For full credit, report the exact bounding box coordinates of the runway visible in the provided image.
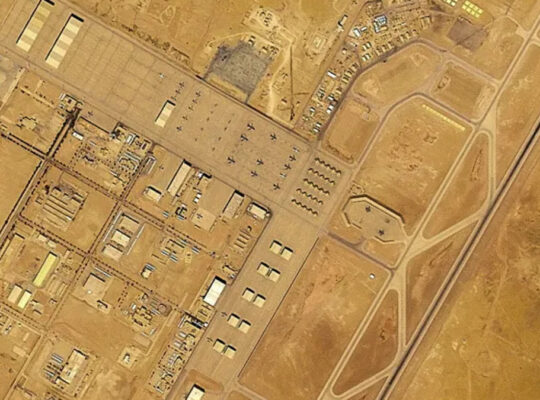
[373,112,540,400]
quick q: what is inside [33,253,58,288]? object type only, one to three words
building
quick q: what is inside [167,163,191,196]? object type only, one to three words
hangar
